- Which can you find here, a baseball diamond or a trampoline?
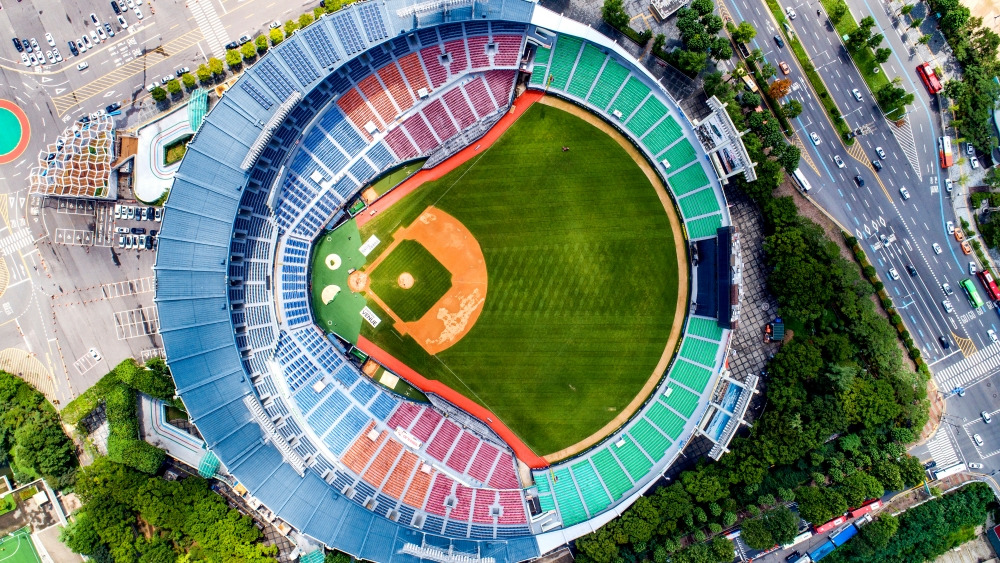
baseball diamond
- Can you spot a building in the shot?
Yes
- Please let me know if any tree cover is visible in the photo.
Yes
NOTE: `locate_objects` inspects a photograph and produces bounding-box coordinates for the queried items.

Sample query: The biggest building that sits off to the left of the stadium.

[28,111,113,197]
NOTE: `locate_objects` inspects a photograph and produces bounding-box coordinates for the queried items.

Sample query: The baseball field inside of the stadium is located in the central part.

[311,88,688,469]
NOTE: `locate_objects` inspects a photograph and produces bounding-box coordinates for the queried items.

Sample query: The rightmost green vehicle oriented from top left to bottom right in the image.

[962,278,986,306]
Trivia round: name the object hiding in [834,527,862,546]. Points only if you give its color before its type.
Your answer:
blue vehicle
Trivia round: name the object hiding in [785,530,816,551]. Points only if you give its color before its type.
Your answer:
white bus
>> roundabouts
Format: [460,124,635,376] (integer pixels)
[0,109,21,153]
